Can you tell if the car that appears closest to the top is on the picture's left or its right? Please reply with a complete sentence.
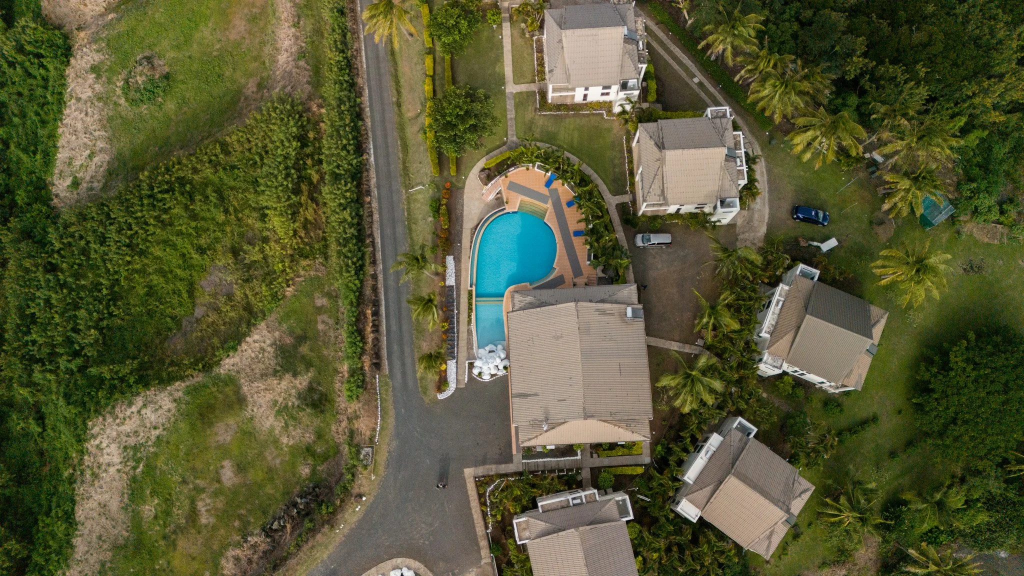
The car that appears closest to the top sits on the right side.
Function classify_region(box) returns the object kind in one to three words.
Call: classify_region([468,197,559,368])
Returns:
swimming pool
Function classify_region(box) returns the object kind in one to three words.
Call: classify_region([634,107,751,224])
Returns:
house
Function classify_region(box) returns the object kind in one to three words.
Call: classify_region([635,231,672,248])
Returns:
vehicle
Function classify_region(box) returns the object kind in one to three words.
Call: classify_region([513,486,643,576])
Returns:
house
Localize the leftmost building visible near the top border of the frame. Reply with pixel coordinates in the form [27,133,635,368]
[544,0,648,108]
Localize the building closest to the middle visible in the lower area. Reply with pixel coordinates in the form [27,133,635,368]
[508,284,654,449]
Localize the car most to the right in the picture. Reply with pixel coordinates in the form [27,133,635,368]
[792,205,830,227]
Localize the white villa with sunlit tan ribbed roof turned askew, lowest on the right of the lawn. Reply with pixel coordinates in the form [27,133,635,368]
[671,417,815,559]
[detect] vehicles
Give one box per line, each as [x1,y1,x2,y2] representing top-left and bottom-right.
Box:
[792,205,830,227]
[635,231,672,248]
